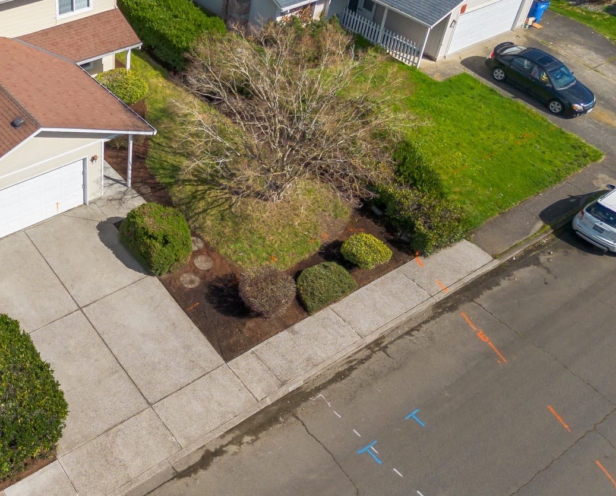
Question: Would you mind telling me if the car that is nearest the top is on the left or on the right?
right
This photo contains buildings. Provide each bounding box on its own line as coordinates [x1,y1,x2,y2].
[0,0,159,239]
[197,0,535,74]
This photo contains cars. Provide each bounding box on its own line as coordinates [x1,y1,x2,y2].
[491,46,600,116]
[570,186,616,262]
